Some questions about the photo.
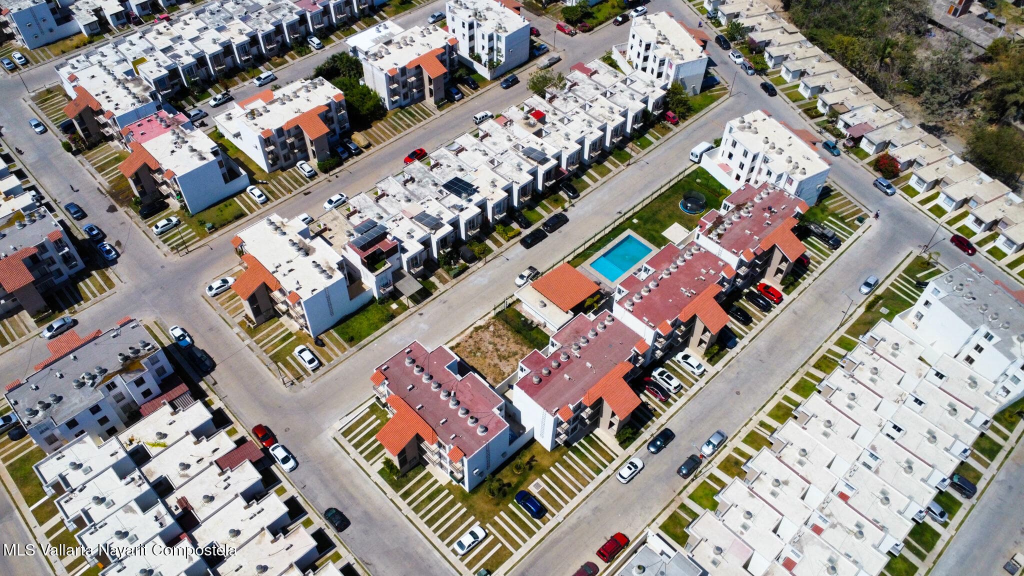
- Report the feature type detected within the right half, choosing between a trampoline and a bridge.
trampoline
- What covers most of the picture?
buildings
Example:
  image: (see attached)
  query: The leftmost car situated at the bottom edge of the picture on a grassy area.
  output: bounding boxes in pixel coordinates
[452,523,489,558]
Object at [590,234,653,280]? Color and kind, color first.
blue swimming pool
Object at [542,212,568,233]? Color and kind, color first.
black car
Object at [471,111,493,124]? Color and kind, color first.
white vehicle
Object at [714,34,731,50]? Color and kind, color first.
black car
